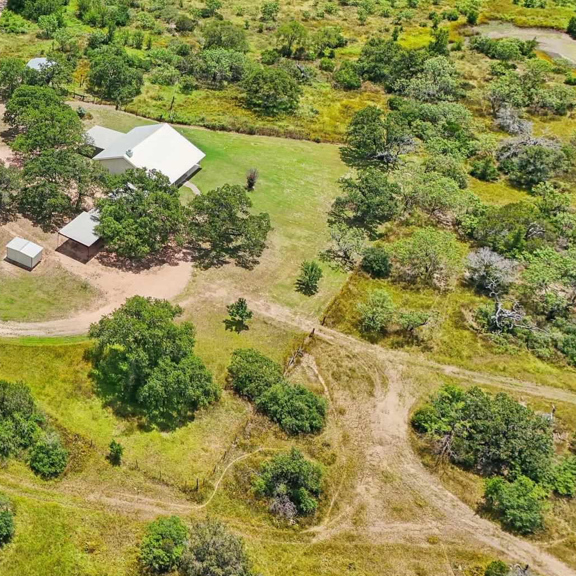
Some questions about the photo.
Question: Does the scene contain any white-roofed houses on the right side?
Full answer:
No, there is no white-roofed house on the right side.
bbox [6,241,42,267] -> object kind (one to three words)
shed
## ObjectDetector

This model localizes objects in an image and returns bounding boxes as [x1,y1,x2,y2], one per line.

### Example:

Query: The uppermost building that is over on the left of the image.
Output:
[74,123,206,195]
